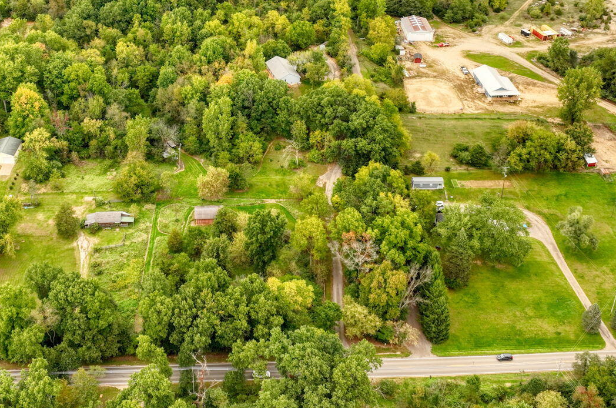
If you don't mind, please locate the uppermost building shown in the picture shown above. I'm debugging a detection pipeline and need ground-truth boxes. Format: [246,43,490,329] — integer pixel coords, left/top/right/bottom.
[399,12,435,41]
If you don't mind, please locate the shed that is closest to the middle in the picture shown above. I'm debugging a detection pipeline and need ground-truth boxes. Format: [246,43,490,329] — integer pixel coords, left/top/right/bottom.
[194,207,222,226]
